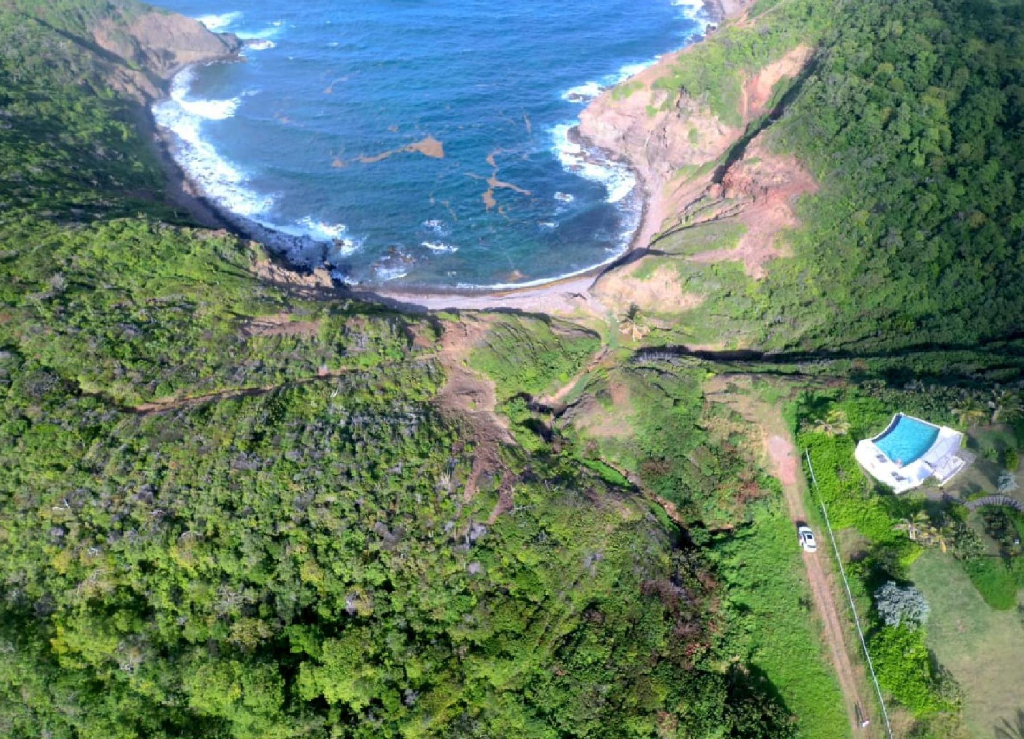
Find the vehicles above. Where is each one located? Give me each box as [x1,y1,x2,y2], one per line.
[794,525,816,554]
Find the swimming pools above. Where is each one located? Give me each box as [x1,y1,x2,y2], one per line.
[852,411,963,497]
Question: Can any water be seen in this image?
Yes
